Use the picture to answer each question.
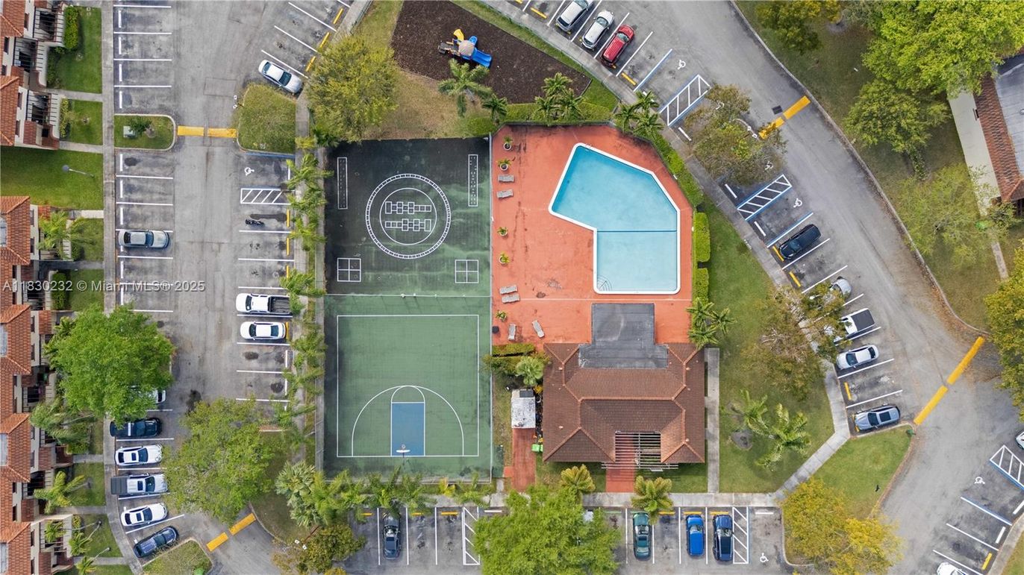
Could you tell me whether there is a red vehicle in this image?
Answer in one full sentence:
Yes, I can see a red vehicle in this picture.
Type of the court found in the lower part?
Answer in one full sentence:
Specifically, the court found in the lower part is a basketball court.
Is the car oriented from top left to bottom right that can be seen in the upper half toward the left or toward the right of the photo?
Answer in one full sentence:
You can find the car oriented from top left to bottom right that can be seen in the upper half on the left side of the picture.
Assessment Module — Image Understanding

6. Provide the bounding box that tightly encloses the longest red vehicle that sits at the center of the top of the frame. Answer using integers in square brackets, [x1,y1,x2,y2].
[600,22,637,69]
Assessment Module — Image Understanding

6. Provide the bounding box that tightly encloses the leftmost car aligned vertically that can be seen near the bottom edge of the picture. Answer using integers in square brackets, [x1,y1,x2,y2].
[380,510,402,559]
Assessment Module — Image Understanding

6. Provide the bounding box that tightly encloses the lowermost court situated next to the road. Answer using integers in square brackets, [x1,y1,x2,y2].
[323,295,491,479]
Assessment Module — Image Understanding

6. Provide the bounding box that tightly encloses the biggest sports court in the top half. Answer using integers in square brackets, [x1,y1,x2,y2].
[324,138,491,295]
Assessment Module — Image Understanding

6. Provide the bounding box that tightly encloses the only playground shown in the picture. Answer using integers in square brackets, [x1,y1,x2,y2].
[438,27,493,67]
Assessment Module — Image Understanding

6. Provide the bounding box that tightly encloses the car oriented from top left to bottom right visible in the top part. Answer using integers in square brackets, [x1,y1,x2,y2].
[258,58,305,95]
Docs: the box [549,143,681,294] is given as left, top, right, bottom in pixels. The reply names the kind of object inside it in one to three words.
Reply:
swimming pool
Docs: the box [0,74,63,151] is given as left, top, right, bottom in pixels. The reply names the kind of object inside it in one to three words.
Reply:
house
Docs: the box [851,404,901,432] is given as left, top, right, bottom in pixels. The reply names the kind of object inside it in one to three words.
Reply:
car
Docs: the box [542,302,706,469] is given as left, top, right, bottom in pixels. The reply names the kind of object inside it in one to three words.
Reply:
building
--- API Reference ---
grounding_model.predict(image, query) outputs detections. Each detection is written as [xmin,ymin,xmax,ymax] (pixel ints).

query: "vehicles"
[817,309,876,346]
[810,274,855,307]
[710,512,734,561]
[600,22,637,69]
[258,58,305,95]
[630,510,653,559]
[243,217,263,225]
[119,227,171,250]
[121,501,170,526]
[833,342,880,370]
[380,510,402,559]
[554,0,595,37]
[685,513,706,556]
[115,444,165,467]
[933,560,967,575]
[131,525,182,560]
[236,292,292,316]
[241,320,288,342]
[851,404,901,432]
[581,9,615,51]
[109,416,164,441]
[775,223,823,261]
[109,472,171,497]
